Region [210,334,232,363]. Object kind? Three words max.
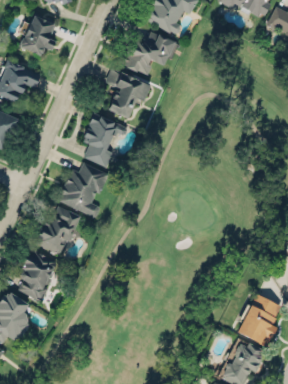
swimming pool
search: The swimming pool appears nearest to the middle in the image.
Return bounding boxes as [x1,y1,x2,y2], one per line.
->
[112,128,134,154]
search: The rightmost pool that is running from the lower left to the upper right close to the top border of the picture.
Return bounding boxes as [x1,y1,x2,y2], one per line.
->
[177,13,200,36]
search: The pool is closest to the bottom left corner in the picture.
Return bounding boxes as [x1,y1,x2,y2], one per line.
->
[30,310,47,330]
